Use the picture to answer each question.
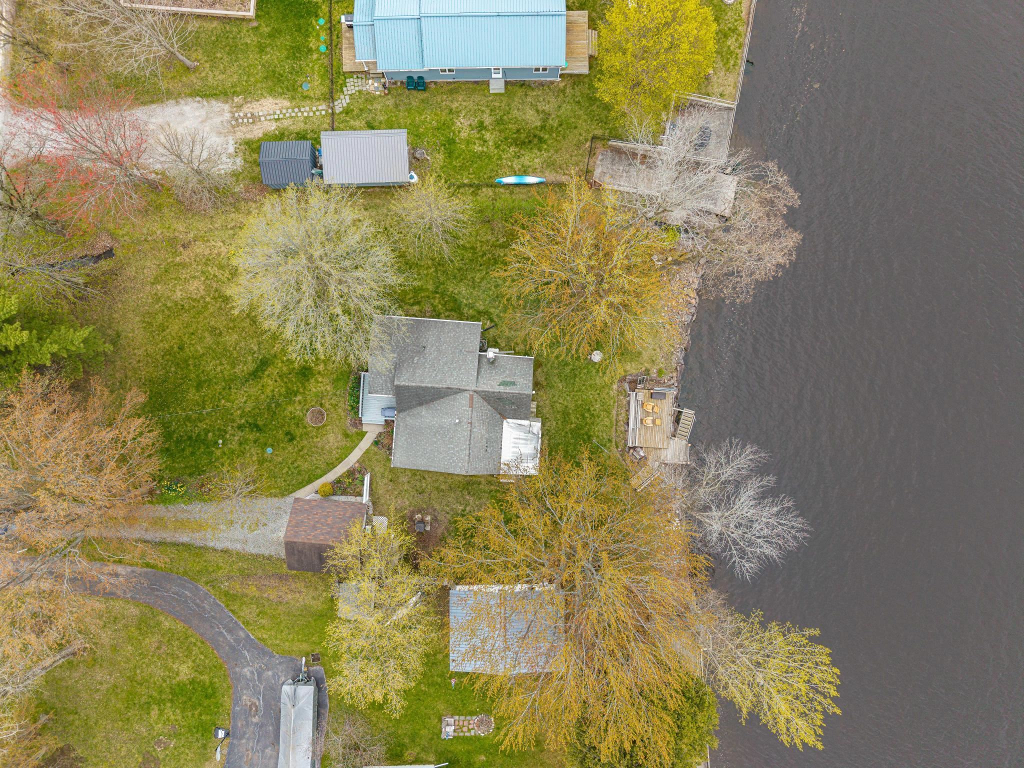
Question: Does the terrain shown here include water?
Yes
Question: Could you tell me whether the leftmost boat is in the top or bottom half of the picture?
bottom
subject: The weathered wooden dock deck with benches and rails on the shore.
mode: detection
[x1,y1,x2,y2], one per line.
[628,389,699,476]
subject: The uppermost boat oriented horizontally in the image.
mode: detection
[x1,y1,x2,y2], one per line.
[495,173,546,185]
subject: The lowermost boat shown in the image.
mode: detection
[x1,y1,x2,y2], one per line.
[283,668,322,768]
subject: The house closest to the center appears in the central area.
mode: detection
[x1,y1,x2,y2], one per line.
[361,315,544,477]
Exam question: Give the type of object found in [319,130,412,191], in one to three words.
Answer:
shed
